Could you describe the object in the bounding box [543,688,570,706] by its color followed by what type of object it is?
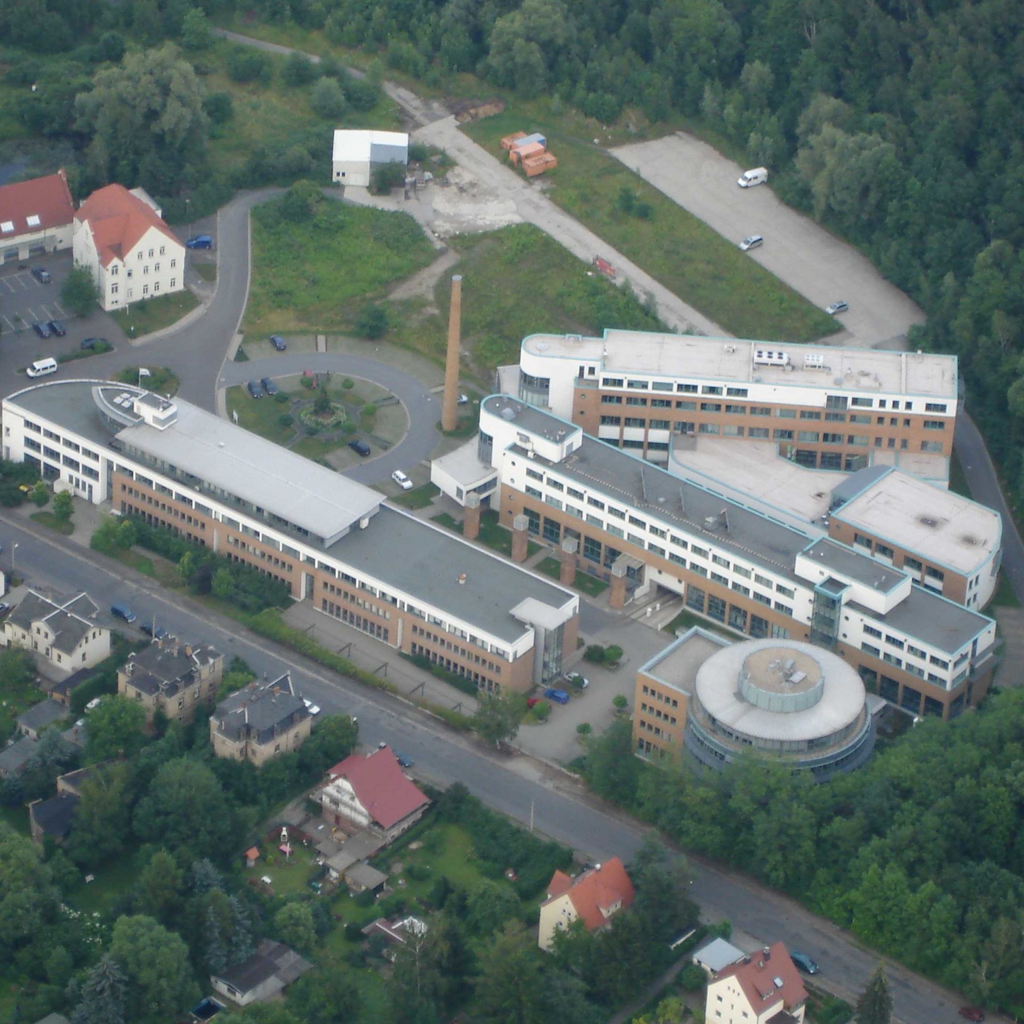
blue car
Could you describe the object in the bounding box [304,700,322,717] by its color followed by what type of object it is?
white car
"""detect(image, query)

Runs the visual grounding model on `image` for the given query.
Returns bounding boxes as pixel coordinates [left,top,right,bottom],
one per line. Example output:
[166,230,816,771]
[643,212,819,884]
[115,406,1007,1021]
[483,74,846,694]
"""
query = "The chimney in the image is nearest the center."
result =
[441,271,461,432]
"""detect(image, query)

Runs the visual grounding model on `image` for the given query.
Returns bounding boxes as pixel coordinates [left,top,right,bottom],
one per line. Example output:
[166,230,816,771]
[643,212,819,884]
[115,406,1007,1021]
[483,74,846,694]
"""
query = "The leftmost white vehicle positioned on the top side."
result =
[28,356,57,379]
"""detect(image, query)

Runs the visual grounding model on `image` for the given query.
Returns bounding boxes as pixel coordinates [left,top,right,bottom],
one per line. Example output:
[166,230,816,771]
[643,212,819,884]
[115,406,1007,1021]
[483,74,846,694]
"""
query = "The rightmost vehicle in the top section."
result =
[826,302,848,317]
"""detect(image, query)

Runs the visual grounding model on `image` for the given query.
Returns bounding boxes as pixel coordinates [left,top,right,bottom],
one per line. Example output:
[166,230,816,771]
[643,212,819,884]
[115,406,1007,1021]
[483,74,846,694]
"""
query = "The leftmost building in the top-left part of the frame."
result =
[0,167,82,266]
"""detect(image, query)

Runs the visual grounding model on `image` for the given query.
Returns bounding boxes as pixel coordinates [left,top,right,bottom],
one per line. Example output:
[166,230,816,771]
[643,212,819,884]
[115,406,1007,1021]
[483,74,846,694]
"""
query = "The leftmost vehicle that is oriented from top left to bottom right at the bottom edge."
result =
[791,953,818,974]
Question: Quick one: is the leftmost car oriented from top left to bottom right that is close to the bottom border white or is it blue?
blue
